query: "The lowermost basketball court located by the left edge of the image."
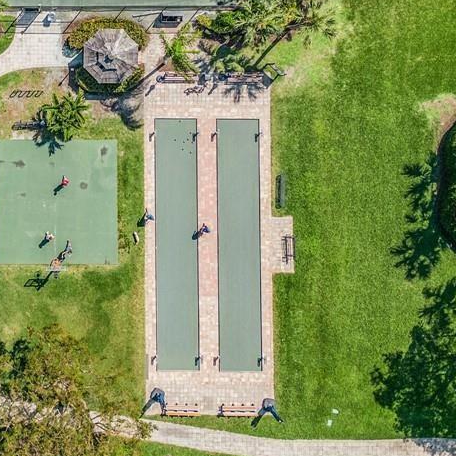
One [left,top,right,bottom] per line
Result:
[0,139,117,265]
